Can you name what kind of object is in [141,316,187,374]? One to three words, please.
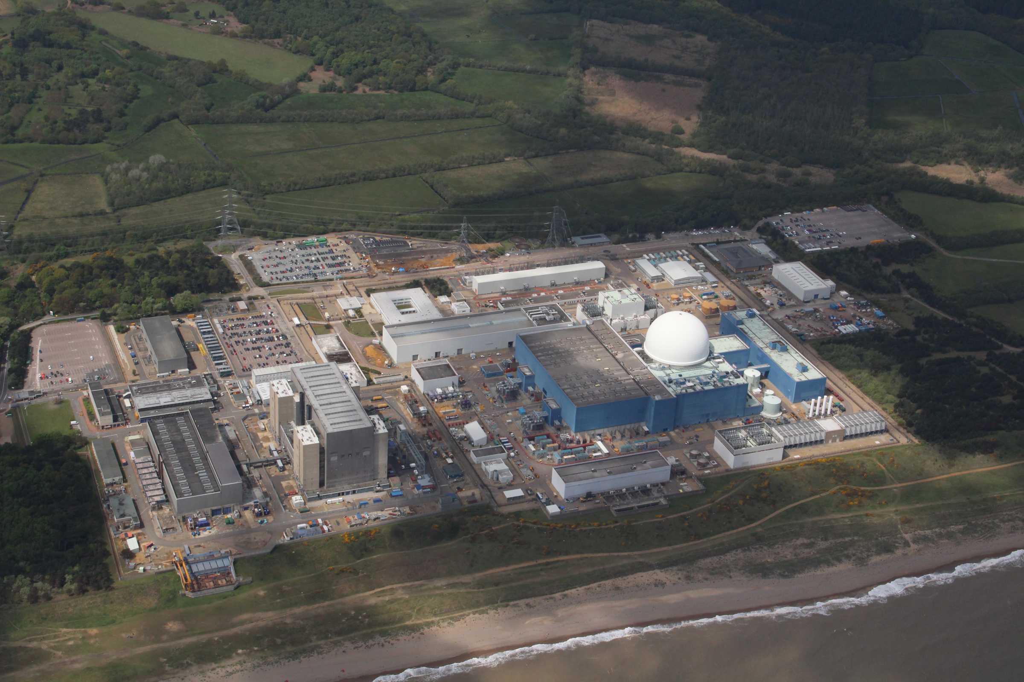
building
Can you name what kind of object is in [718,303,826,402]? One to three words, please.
building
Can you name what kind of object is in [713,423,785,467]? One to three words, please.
house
